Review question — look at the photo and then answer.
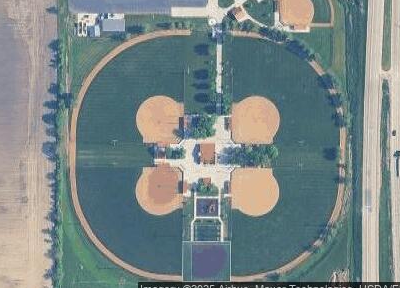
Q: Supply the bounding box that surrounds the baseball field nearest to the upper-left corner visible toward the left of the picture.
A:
[69,29,191,155]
